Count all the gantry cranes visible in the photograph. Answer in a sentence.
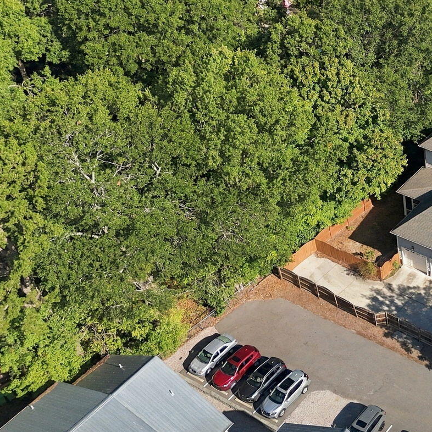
The photo contains no gantry cranes.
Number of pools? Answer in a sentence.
The photo contains no pools.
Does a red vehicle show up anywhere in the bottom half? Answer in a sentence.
Yes, a red vehicle appears in the bottom half.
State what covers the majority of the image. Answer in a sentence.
The largest share of the image is taken up by trees.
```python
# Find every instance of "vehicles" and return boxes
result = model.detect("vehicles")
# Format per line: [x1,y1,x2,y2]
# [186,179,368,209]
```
[215,336,266,387]
[344,397,391,432]
[191,325,243,373]
[263,365,314,418]
[239,350,290,401]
